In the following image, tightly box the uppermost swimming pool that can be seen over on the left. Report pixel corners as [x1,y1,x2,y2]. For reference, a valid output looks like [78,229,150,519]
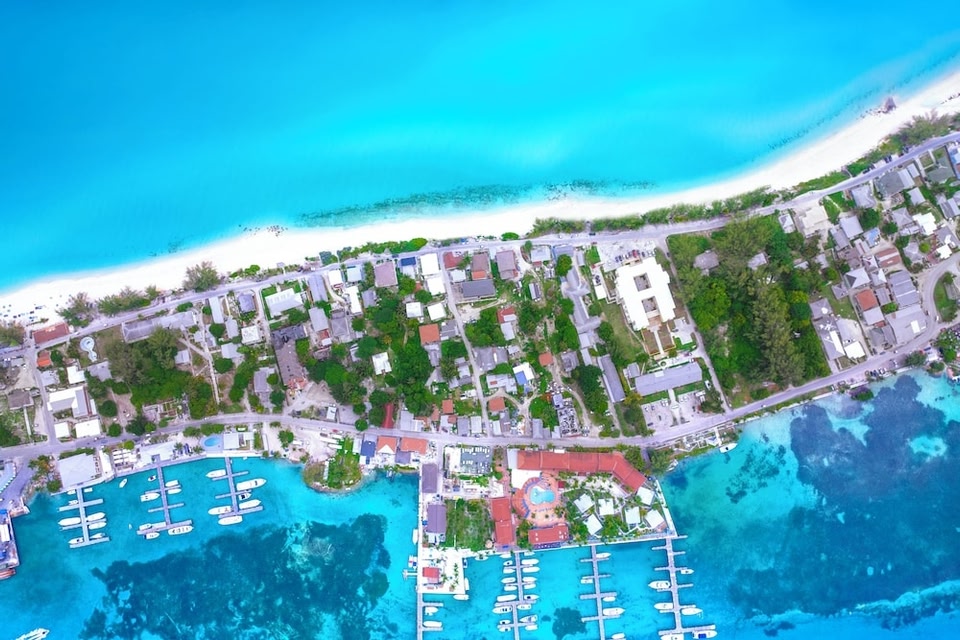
[200,435,224,451]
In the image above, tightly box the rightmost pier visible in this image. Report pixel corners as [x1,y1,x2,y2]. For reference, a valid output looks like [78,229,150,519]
[651,534,716,636]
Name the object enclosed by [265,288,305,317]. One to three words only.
house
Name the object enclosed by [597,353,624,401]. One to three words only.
building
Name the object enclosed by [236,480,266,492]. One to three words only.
boat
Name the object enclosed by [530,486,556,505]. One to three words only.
swimming pool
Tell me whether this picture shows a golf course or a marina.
marina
